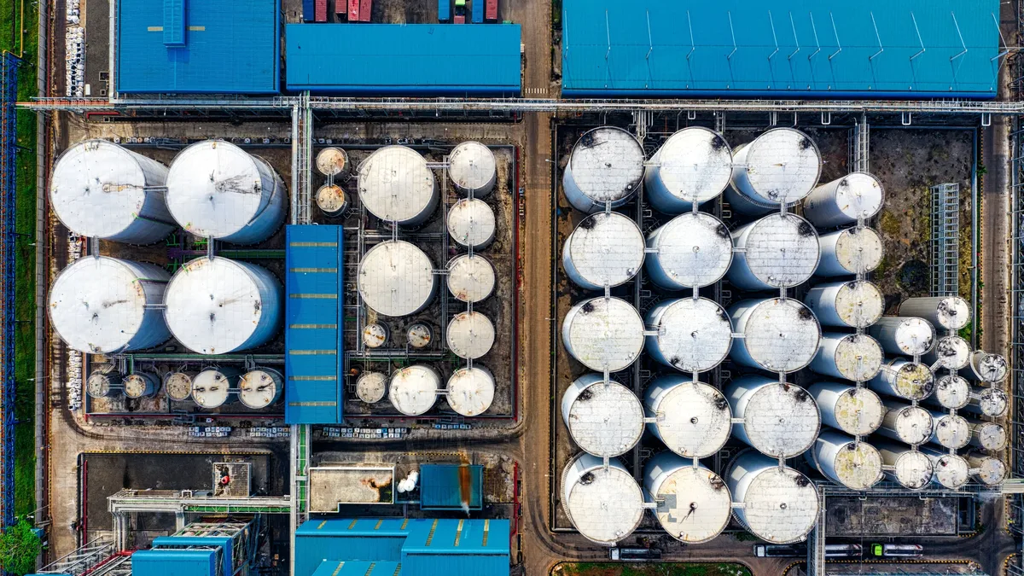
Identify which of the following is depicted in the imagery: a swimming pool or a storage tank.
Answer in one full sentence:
Looking from above, you can make out a storage tank.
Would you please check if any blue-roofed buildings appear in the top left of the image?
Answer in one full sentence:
Yes, looking in the top left of the image, one can make out a blue-roofed building.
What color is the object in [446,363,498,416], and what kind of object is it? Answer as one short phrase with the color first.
white storage tank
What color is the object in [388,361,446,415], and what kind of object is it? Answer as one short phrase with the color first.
white storage tank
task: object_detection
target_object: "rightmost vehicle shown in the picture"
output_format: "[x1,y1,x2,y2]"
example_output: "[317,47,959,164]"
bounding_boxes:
[868,542,924,557]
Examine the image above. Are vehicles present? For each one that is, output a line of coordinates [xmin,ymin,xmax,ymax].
[455,0,467,23]
[806,543,864,558]
[752,543,807,558]
[868,542,924,557]
[608,546,661,561]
